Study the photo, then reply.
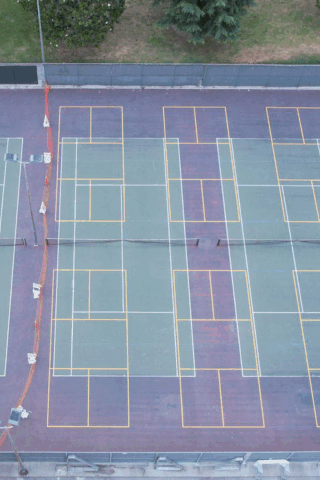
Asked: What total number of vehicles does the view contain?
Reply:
0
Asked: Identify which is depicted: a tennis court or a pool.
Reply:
tennis court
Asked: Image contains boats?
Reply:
No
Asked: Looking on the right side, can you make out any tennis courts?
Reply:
Yes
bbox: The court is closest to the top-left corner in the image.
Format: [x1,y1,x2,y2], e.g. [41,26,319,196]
[55,107,124,222]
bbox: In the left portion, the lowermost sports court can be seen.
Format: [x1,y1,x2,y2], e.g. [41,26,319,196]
[46,270,128,426]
